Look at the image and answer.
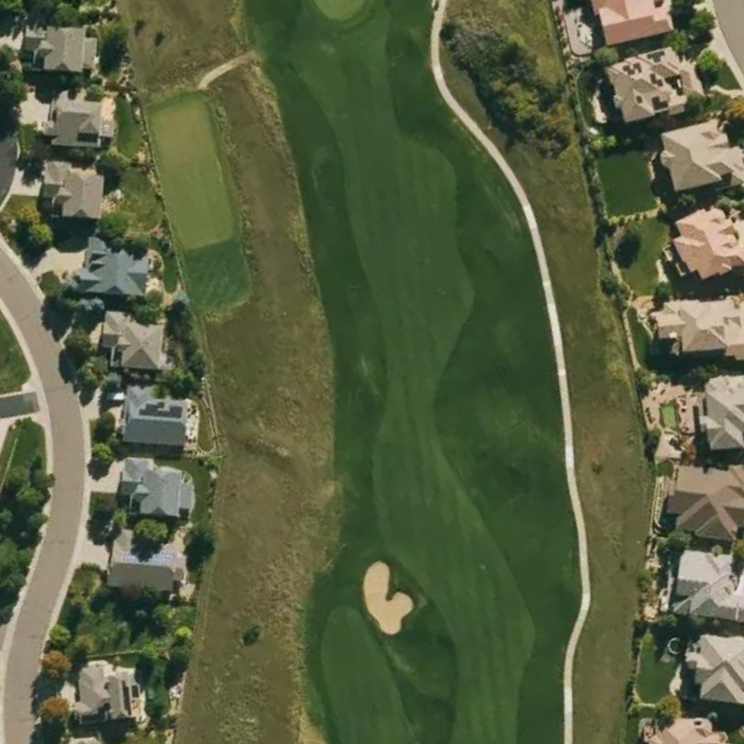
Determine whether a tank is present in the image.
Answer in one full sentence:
No, I can't see a single tank in this photo.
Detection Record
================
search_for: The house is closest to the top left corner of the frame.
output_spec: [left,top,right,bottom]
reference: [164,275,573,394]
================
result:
[24,26,96,71]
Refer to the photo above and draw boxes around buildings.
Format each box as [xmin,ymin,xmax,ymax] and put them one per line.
[43,161,104,218]
[668,464,744,538]
[43,90,102,146]
[671,550,744,624]
[593,0,675,44]
[608,48,706,123]
[700,374,744,451]
[676,205,744,282]
[102,311,163,370]
[74,662,137,720]
[662,118,744,190]
[654,298,744,360]
[121,384,186,445]
[690,636,744,708]
[120,457,195,517]
[106,529,187,592]
[71,233,150,299]
[649,718,726,744]
[24,26,96,71]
